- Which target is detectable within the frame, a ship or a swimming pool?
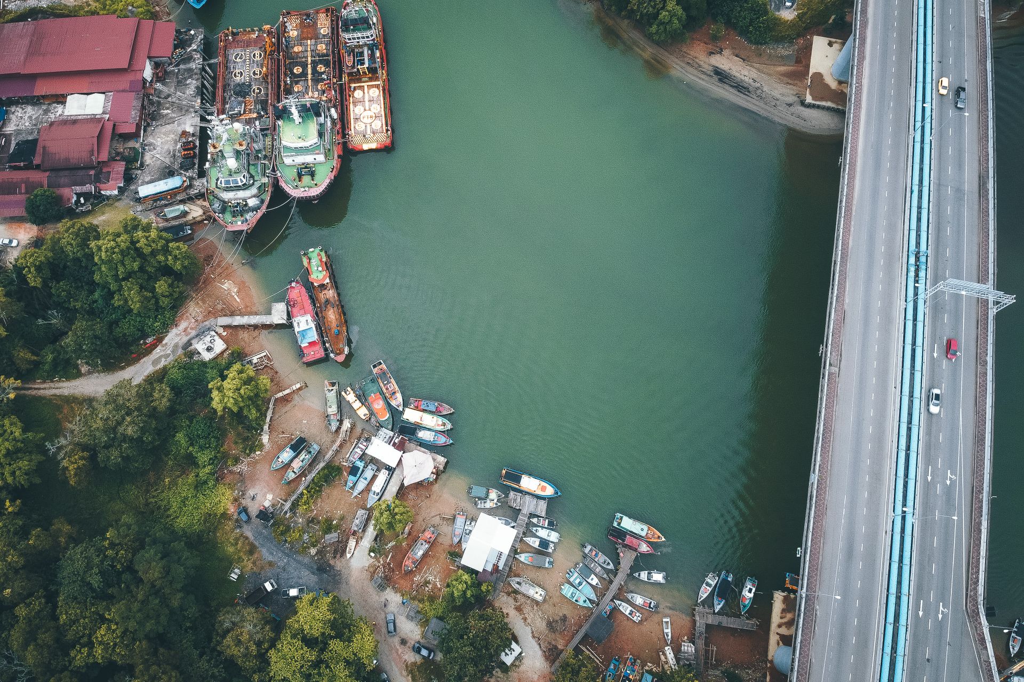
ship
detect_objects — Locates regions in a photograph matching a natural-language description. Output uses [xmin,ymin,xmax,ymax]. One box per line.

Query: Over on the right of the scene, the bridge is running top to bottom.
[765,0,1000,682]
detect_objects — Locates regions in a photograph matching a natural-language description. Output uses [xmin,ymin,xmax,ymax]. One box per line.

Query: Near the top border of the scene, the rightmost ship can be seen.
[339,0,395,155]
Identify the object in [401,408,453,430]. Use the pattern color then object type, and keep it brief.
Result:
white boat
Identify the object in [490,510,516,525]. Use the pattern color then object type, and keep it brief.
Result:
gray boat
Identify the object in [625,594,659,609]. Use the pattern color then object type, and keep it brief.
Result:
white boat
